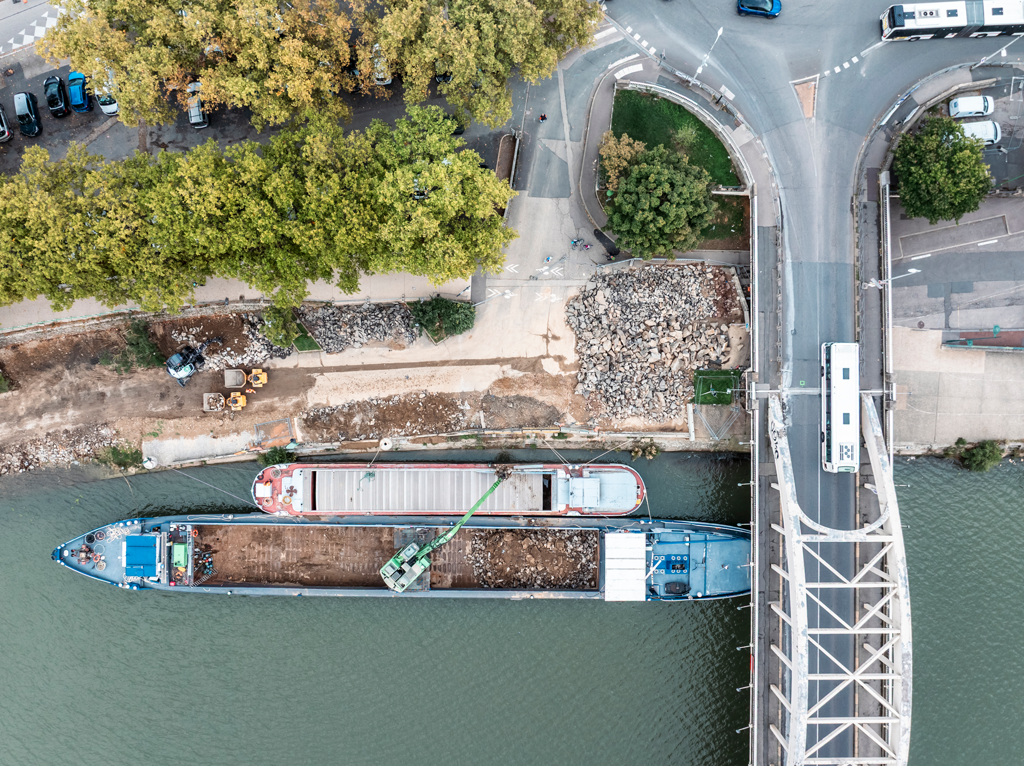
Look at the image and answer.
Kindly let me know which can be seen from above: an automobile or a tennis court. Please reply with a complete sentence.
The image shows an automobile.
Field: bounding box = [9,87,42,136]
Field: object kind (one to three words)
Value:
car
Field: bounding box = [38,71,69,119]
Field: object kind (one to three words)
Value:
car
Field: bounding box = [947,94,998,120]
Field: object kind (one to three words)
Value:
vehicle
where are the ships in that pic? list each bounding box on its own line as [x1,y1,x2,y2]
[250,462,647,516]
[47,512,747,602]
